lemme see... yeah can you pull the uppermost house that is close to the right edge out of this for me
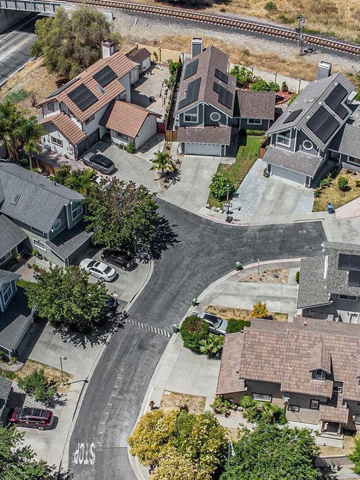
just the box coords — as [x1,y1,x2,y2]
[264,61,360,188]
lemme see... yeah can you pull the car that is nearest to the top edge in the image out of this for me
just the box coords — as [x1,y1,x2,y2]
[83,152,116,175]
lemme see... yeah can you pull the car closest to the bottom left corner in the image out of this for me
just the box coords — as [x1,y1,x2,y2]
[8,405,56,431]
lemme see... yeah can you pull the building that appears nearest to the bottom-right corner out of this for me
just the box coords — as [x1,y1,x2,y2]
[213,313,360,444]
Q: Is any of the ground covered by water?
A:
No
